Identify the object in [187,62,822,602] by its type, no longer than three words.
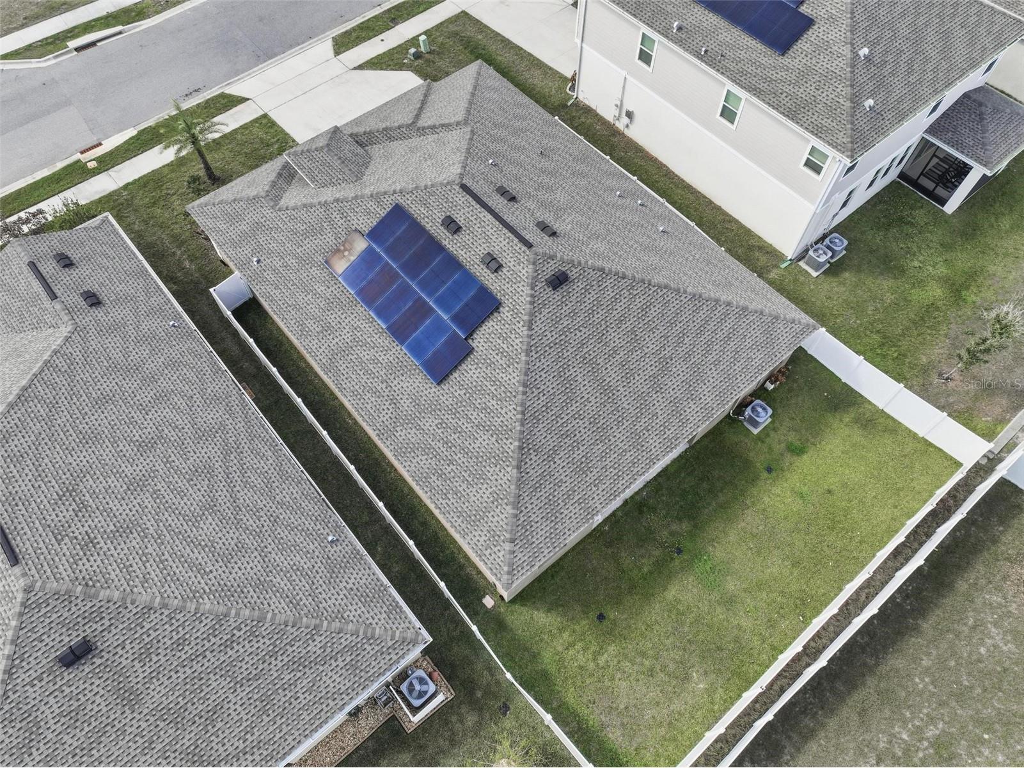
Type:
house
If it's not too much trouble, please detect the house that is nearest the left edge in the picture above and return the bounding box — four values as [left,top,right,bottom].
[0,210,436,768]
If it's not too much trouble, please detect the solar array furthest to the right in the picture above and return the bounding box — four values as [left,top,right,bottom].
[694,0,813,54]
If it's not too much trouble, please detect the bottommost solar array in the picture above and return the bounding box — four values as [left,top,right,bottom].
[324,204,497,383]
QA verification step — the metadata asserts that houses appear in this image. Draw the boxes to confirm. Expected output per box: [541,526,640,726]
[187,62,822,602]
[571,0,1024,260]
[0,210,436,768]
